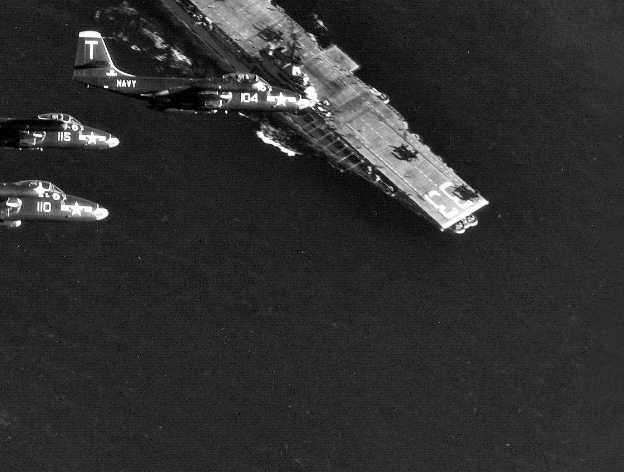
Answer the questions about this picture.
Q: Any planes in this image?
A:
Yes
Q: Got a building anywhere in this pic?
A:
No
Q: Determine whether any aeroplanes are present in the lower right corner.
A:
No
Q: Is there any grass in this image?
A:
No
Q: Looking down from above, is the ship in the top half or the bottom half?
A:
top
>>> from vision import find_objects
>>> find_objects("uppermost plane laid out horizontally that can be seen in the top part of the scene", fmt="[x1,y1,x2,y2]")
[72,30,308,115]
